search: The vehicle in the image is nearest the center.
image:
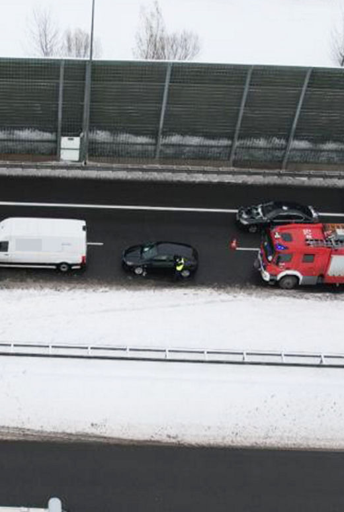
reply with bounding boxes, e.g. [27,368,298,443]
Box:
[123,240,199,279]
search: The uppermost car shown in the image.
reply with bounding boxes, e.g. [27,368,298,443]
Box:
[234,199,319,233]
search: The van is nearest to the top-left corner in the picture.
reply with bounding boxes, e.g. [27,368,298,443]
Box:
[0,218,87,271]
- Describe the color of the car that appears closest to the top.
black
